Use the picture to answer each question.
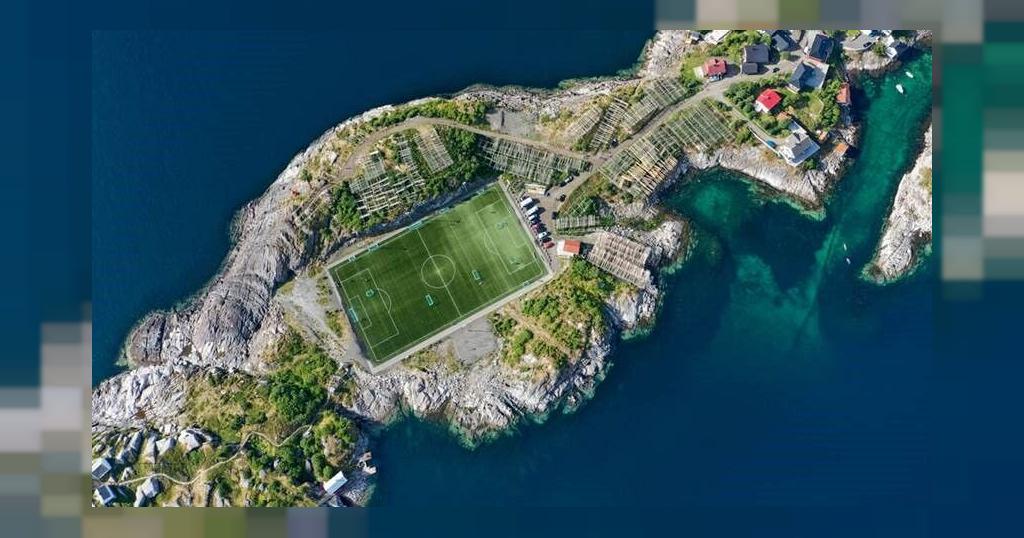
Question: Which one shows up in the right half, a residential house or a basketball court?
residential house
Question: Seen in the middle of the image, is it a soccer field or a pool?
soccer field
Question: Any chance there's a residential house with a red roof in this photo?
Yes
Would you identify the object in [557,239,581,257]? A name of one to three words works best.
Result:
building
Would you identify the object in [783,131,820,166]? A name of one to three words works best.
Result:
house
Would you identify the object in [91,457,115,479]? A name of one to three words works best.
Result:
building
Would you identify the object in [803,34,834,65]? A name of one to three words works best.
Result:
house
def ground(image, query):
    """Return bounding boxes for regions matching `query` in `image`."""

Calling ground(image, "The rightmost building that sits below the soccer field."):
[324,471,349,494]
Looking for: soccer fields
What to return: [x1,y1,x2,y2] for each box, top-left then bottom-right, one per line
[327,181,553,371]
